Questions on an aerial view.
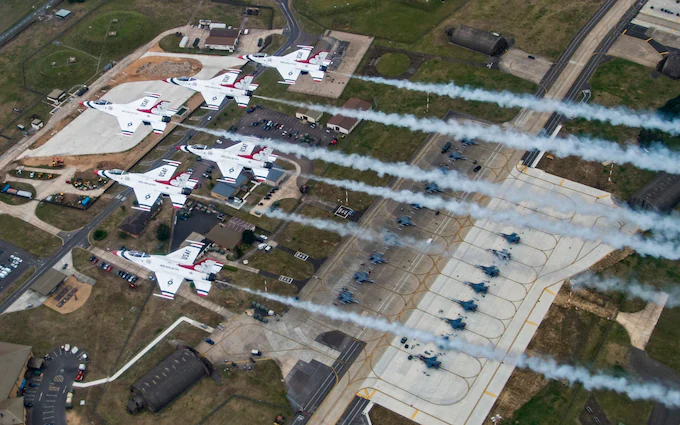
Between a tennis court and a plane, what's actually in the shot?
plane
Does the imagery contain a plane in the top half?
Yes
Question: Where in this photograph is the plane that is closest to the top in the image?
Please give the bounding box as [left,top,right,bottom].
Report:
[239,45,332,86]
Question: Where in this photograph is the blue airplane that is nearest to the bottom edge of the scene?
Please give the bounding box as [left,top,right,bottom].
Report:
[417,353,445,369]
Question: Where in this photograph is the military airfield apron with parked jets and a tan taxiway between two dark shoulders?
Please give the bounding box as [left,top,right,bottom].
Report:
[196,0,680,425]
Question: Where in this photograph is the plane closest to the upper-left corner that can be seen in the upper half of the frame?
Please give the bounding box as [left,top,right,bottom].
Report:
[80,92,178,137]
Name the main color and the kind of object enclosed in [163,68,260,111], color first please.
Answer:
white airplane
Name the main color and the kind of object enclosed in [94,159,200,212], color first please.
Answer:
white airplane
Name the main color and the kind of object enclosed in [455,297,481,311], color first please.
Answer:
blue airplane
